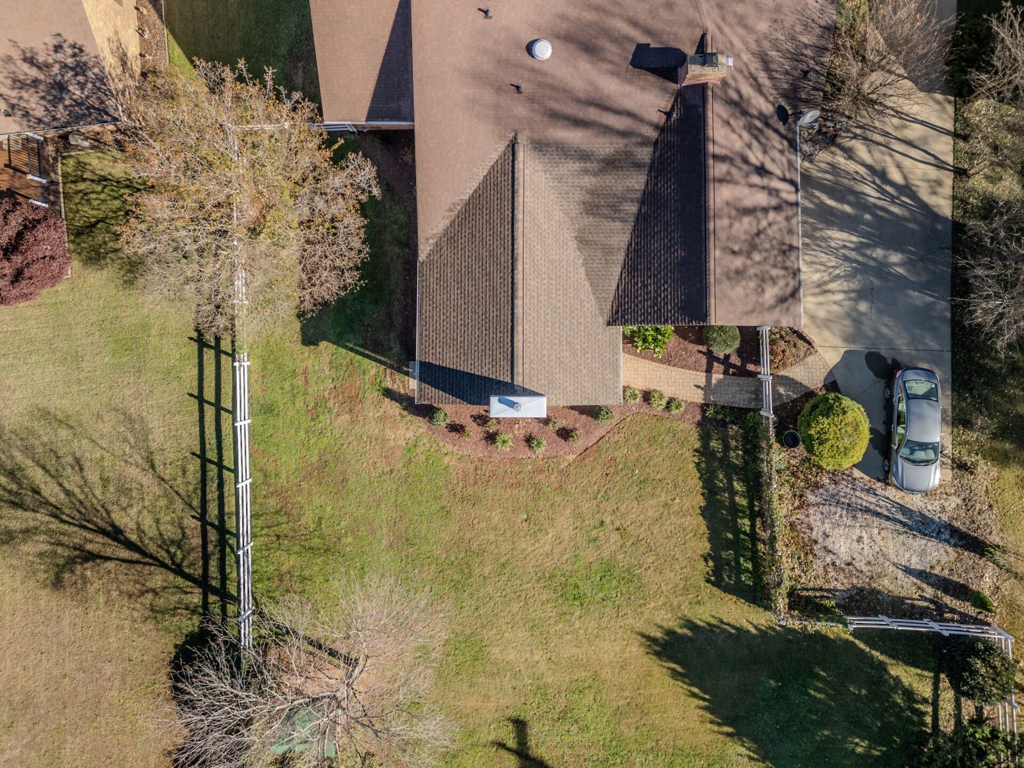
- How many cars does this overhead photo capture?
one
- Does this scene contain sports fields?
No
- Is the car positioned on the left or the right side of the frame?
right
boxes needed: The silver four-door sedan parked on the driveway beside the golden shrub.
[882,367,951,495]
